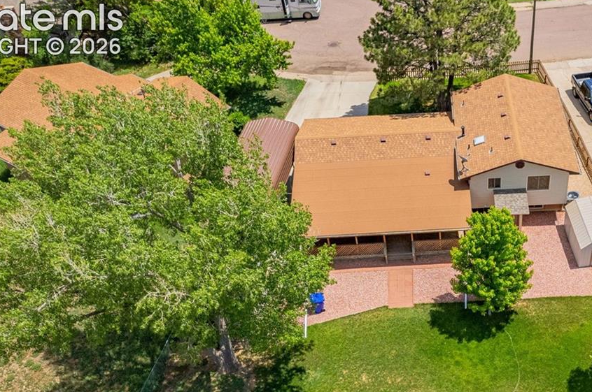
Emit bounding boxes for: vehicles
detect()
[572,72,592,117]
[246,0,327,20]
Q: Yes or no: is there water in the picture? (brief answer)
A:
No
